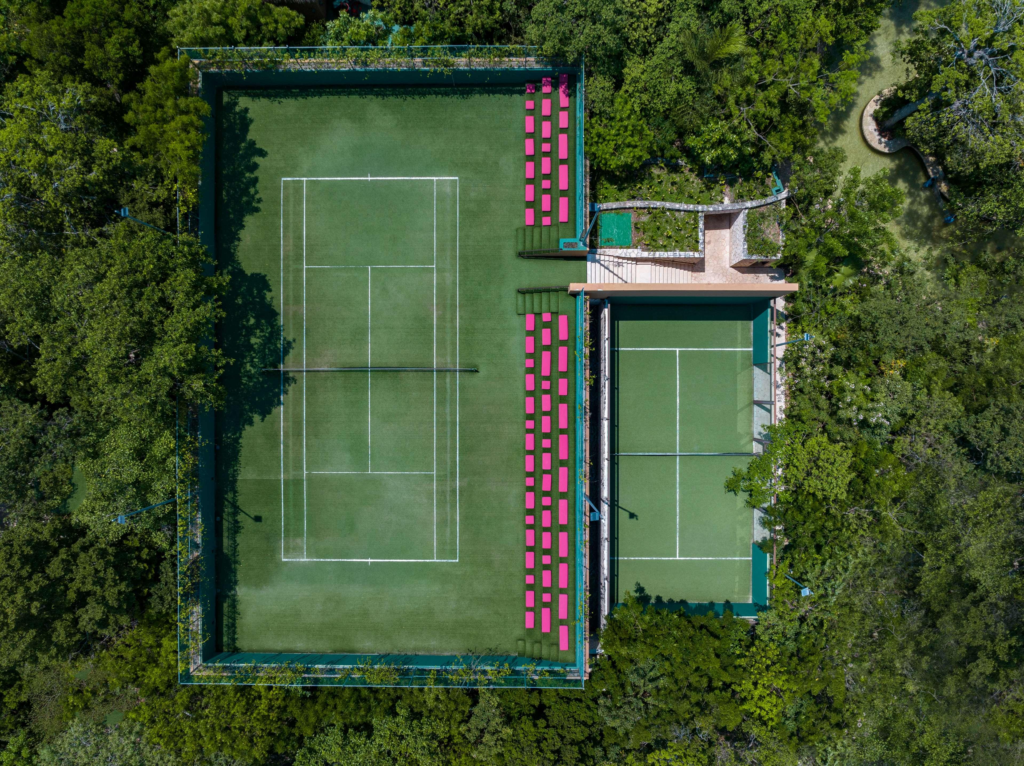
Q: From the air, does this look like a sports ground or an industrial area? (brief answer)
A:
sports ground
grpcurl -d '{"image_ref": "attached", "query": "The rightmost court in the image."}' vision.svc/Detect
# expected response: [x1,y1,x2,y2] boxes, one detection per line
[610,304,754,605]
